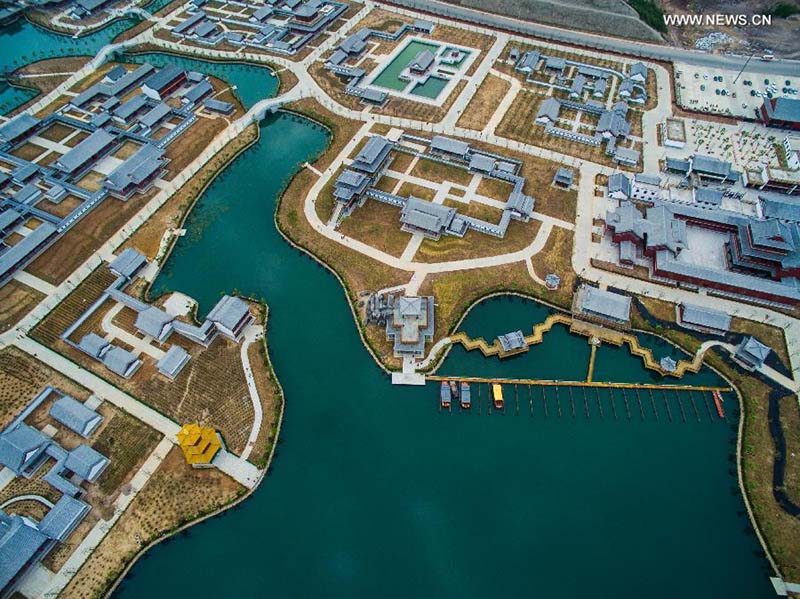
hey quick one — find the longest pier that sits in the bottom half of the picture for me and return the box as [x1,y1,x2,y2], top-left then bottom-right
[424,374,734,391]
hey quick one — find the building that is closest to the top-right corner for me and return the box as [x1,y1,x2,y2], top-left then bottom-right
[763,98,800,131]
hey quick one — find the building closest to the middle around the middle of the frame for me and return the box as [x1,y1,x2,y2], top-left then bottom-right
[387,294,434,356]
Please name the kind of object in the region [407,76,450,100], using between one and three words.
swimming pool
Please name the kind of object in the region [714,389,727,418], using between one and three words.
boat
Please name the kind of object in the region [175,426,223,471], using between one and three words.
building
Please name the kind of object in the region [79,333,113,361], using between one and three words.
house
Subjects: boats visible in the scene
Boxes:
[461,381,471,409]
[714,389,727,418]
[493,383,505,409]
[441,381,451,408]
[451,379,458,398]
